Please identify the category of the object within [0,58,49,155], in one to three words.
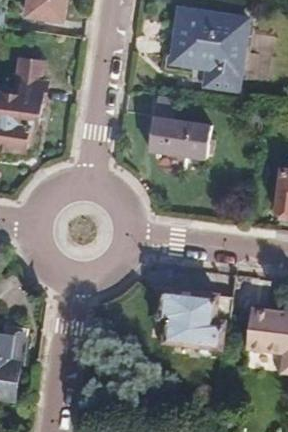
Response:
house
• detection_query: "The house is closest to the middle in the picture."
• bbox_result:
[148,114,215,163]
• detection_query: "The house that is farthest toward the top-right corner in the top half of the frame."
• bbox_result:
[168,6,252,94]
